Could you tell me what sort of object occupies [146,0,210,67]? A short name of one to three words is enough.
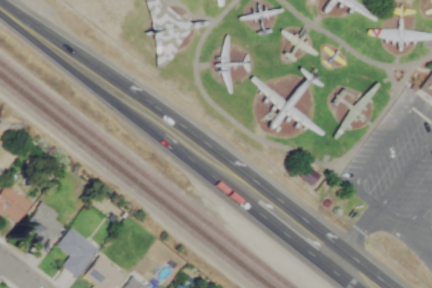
airplane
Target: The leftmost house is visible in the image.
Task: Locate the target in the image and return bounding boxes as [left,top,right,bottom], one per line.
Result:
[0,187,32,225]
